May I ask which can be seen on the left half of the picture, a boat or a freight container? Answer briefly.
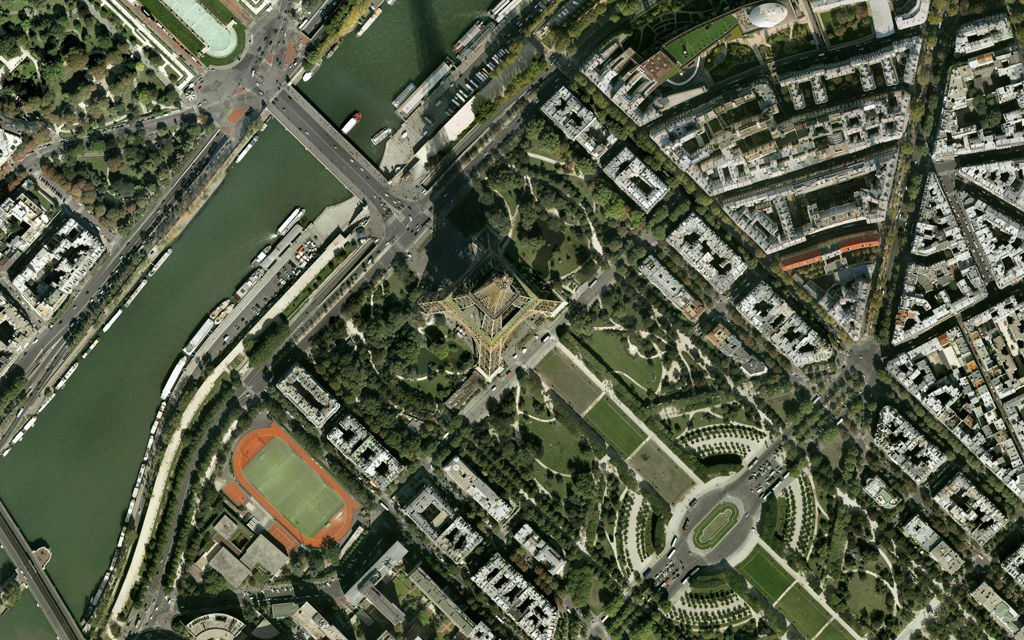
boat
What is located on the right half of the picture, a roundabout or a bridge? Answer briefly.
roundabout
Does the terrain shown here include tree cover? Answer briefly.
Yes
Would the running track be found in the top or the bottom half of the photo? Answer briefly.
bottom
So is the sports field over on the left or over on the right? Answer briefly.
left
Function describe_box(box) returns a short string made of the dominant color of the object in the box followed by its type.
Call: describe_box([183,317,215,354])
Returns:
white boat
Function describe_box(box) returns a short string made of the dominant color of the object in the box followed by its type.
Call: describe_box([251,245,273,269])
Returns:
white boat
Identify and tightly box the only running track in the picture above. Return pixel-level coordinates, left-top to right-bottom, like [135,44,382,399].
[233,422,361,548]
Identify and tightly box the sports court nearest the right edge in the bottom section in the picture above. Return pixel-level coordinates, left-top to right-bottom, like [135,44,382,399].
[267,521,301,556]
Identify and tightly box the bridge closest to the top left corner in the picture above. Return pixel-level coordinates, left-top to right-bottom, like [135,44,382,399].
[264,82,394,208]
